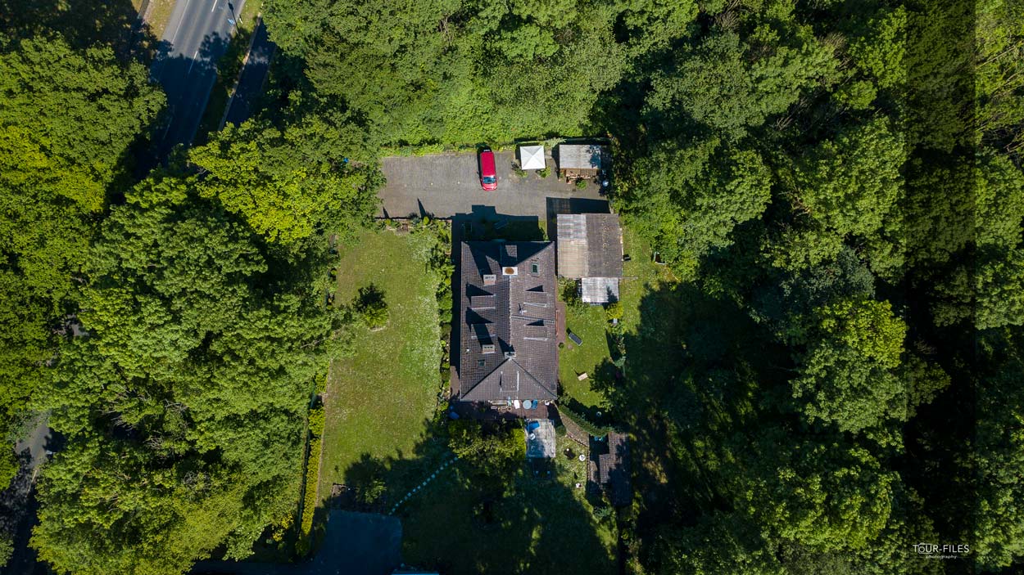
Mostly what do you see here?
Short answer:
trees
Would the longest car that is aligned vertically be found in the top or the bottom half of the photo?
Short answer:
top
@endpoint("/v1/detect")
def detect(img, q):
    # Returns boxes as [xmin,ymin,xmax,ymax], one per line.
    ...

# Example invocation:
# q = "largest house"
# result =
[458,232,558,402]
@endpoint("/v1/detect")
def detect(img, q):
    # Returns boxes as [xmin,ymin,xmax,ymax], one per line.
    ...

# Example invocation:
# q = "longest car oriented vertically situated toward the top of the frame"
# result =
[479,146,500,192]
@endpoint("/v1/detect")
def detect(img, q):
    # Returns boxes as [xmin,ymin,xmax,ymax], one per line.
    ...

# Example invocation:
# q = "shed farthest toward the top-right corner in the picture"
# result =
[559,144,601,180]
